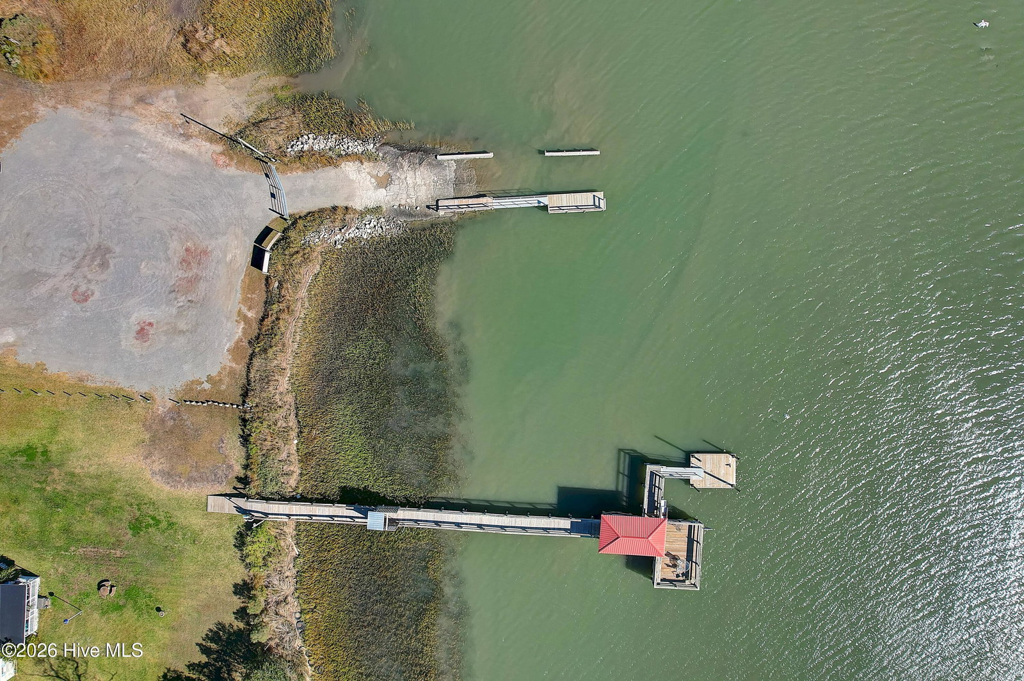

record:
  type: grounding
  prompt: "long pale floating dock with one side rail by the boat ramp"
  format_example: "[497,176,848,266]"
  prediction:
[547,190,606,214]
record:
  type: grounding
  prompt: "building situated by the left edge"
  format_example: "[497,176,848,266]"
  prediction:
[0,576,52,647]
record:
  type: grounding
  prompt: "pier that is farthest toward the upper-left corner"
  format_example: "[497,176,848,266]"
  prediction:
[437,196,494,214]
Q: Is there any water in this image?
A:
Yes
